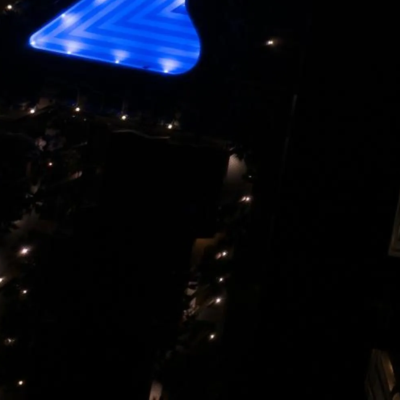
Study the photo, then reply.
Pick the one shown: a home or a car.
home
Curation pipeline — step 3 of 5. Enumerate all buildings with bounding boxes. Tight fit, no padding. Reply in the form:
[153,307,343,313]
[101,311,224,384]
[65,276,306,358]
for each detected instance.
[71,142,238,342]
[269,0,400,351]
